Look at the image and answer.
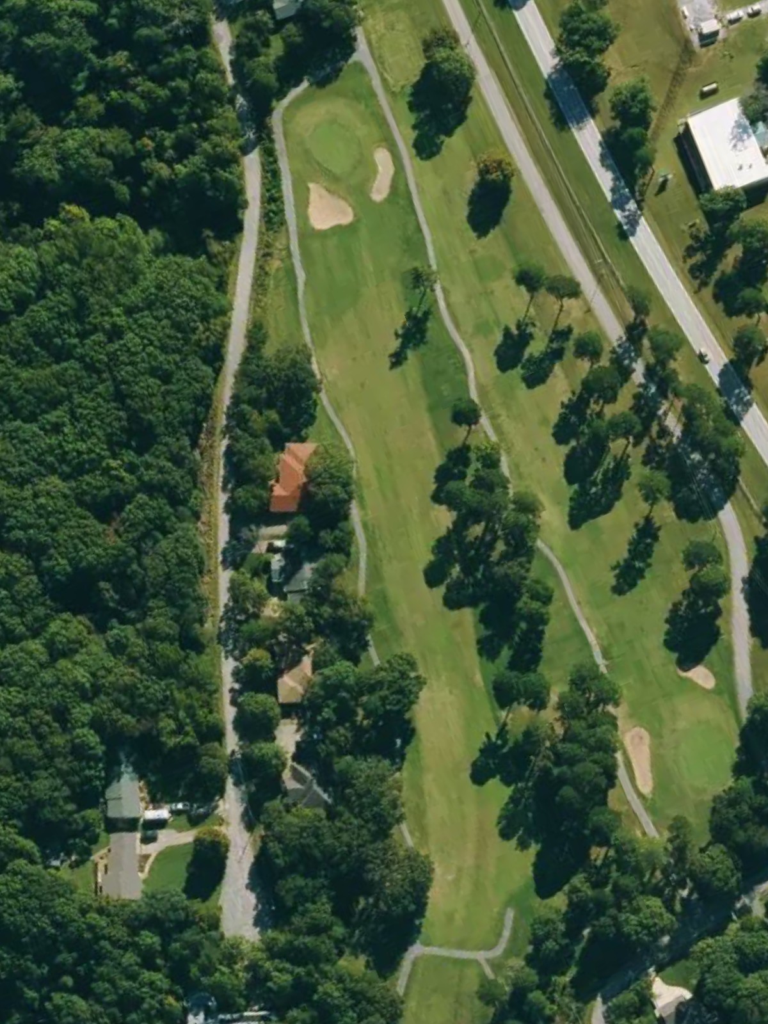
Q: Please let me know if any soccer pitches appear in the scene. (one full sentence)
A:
No, the picture doesn't show any soccer pitch.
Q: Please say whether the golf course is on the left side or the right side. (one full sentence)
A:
The golf course appears in the right half of the scene.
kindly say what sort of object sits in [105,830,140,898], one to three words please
house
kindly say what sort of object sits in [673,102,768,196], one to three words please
building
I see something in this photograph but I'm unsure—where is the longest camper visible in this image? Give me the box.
[145,810,173,822]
